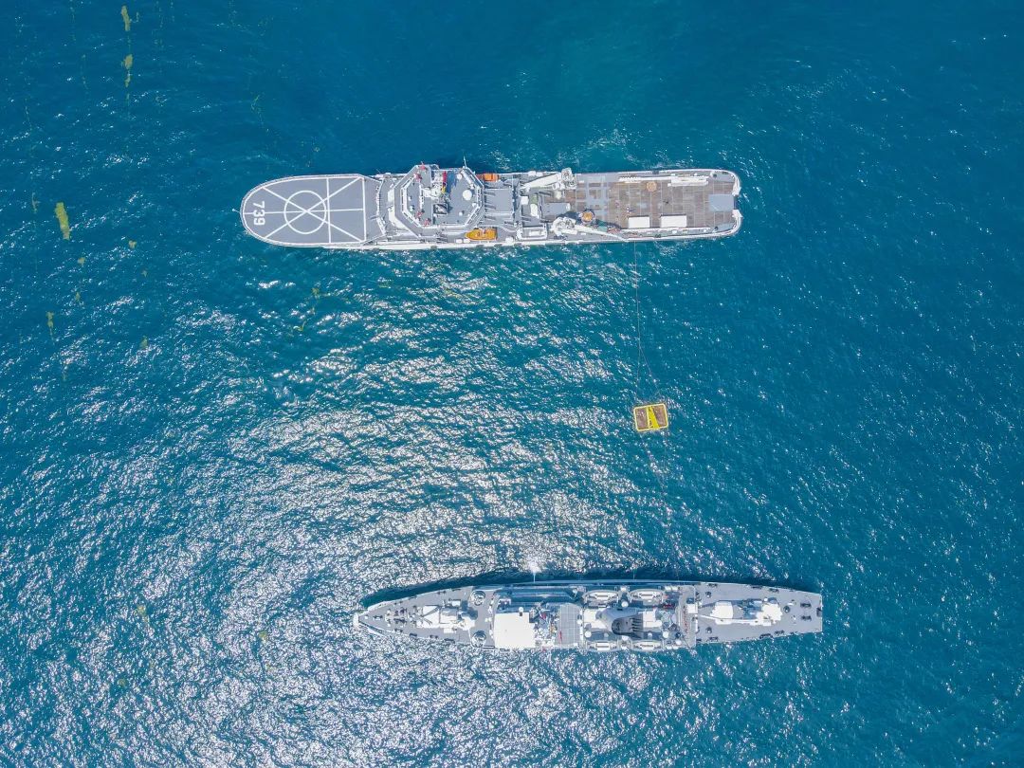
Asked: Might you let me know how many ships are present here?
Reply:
2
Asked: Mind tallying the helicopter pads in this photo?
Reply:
one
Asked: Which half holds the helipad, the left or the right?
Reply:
left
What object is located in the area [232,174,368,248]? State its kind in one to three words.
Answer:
helipad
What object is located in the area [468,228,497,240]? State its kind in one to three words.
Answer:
boat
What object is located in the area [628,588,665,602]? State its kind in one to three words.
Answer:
boat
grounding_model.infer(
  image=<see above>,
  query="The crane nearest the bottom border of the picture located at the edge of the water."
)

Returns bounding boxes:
[550,215,630,243]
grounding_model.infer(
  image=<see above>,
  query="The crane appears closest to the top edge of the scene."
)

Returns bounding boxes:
[520,167,578,192]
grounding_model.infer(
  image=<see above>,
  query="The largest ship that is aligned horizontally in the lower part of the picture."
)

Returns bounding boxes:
[353,577,823,651]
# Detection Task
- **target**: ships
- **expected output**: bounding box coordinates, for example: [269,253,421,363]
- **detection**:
[322,161,744,249]
[353,577,823,651]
